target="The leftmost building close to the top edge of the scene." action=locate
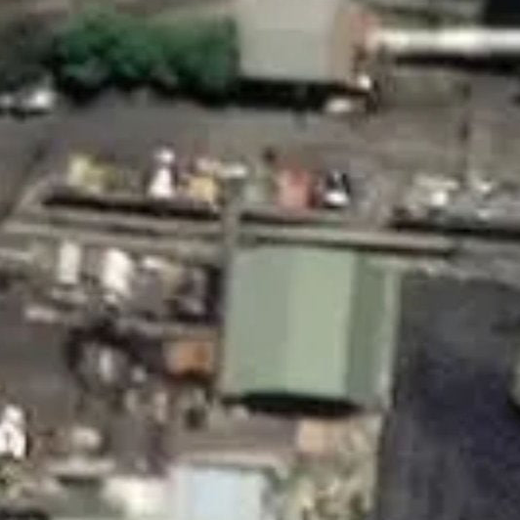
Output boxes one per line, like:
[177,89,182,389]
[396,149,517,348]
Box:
[234,0,366,92]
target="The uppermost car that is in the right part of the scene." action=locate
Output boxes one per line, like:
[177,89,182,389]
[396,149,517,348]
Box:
[324,95,358,114]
